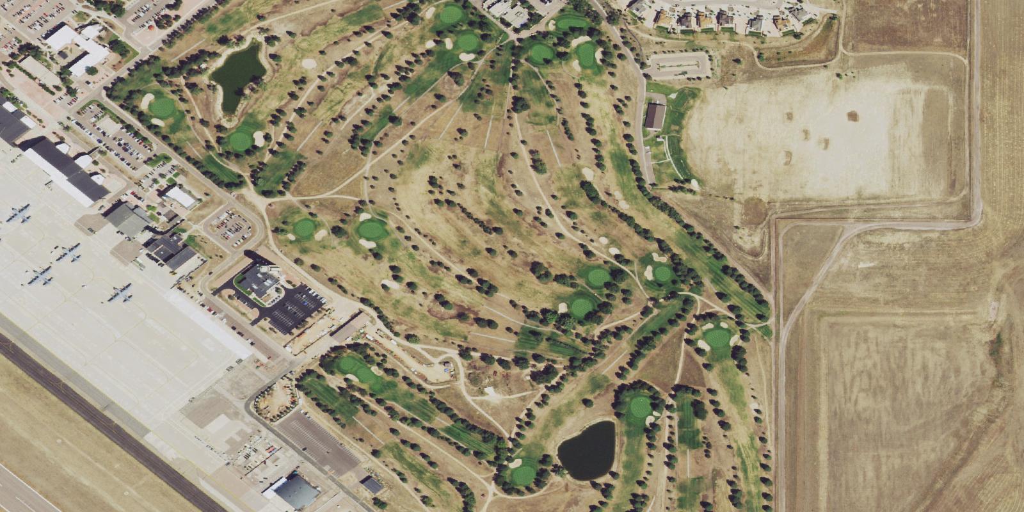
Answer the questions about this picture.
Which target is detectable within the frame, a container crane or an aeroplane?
aeroplane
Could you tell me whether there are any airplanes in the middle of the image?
No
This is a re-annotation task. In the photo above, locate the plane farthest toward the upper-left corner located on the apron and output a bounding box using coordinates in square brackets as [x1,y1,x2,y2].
[8,205,34,225]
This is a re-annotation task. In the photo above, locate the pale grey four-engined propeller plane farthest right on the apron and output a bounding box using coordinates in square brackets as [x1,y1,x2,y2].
[109,285,135,305]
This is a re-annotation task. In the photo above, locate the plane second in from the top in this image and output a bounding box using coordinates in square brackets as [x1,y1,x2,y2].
[58,245,84,265]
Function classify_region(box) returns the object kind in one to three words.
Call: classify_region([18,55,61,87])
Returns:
building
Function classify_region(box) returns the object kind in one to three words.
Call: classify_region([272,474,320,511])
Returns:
hangar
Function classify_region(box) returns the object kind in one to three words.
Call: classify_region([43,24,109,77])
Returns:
building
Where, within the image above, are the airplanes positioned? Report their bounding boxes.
[29,267,55,287]
[109,285,135,305]
[58,245,84,265]
[8,205,34,225]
